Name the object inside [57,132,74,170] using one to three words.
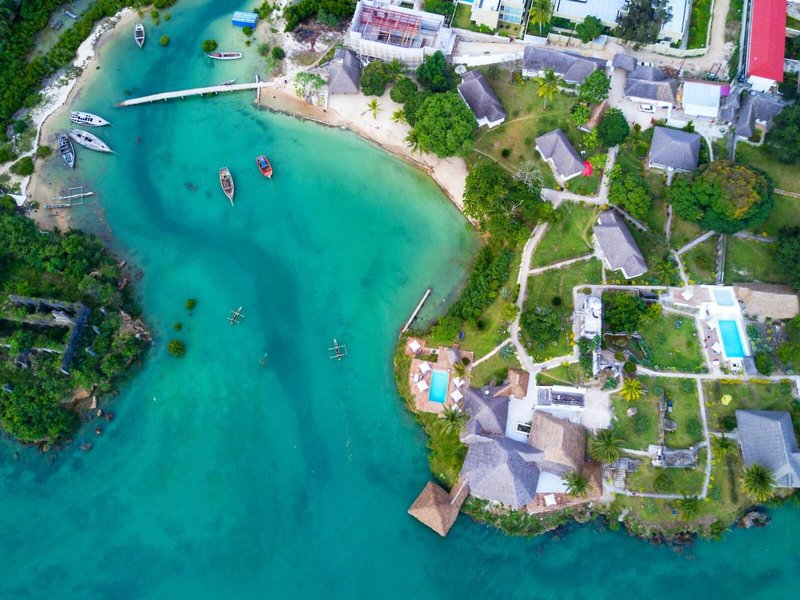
boat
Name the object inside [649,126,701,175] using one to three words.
house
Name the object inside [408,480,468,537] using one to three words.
gazebo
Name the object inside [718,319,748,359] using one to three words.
swimming pool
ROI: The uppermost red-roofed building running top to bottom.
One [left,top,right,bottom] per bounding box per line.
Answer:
[741,0,787,88]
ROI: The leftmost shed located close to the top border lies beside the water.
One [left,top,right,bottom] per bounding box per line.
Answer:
[233,11,259,30]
